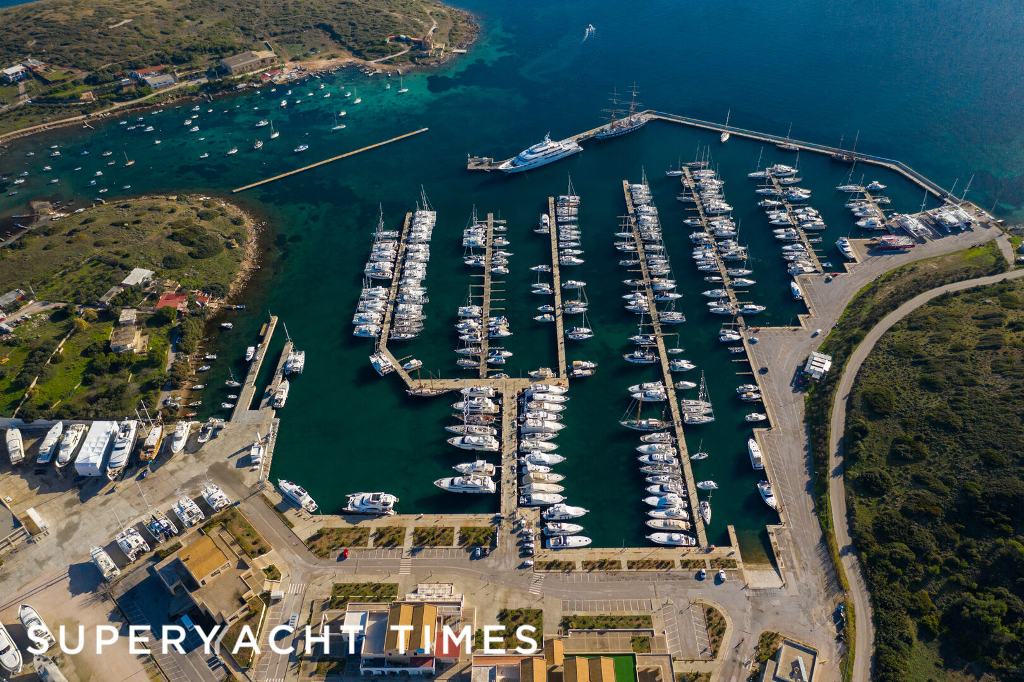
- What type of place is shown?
port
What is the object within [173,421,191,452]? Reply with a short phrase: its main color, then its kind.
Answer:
white boat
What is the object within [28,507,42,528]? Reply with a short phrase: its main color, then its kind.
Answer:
white vehicle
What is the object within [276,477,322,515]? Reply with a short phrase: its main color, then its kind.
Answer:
white boat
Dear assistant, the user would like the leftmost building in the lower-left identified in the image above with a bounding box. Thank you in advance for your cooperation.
[0,502,34,552]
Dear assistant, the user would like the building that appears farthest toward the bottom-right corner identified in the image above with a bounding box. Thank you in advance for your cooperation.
[762,639,819,682]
